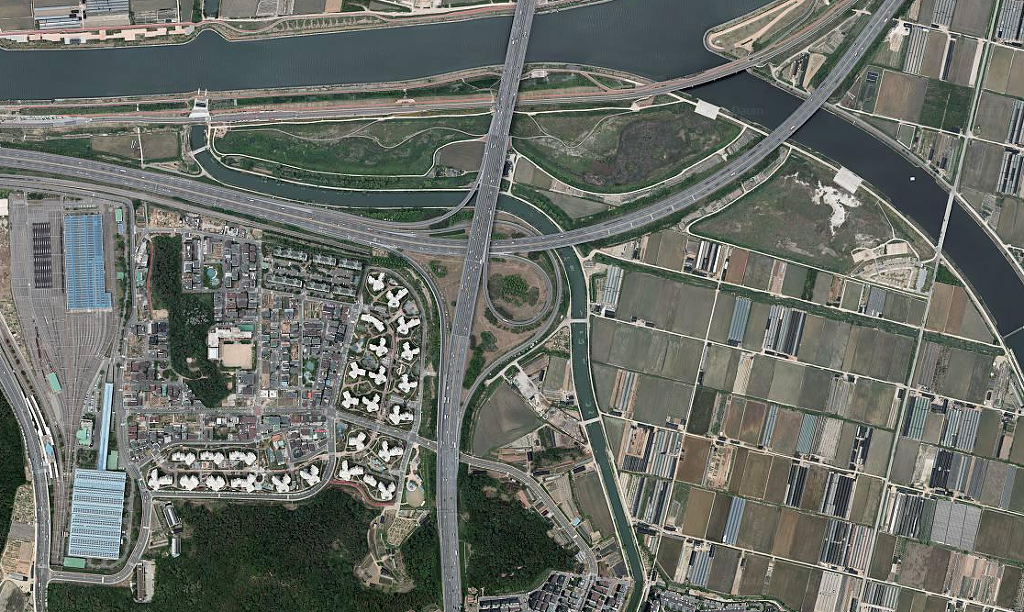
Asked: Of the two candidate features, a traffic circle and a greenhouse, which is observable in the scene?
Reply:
greenhouse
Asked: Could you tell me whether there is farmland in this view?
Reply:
Yes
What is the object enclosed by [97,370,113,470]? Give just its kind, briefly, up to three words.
shed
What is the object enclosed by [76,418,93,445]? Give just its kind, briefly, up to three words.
building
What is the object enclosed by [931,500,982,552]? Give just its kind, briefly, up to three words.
greenhouse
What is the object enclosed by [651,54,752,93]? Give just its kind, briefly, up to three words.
bridge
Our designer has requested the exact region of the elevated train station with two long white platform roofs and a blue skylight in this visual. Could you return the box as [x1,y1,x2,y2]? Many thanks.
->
[25,395,59,478]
